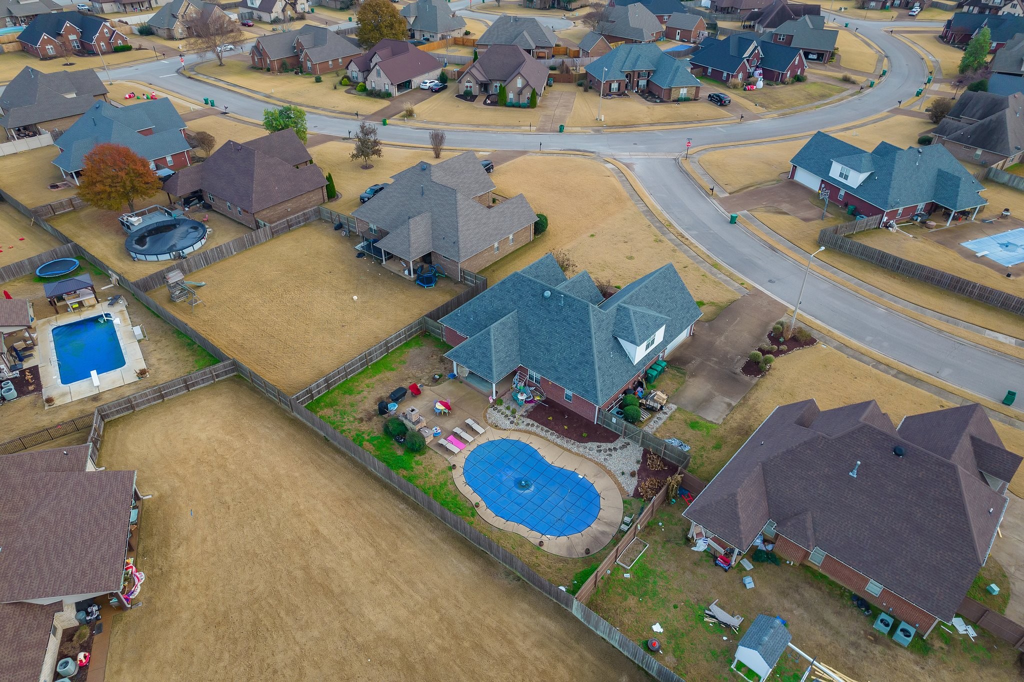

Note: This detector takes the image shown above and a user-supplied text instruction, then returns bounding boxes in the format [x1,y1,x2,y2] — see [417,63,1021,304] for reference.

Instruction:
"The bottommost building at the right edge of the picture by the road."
[679,390,1024,638]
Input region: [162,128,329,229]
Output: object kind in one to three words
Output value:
house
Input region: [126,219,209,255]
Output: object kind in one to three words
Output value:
swimming pool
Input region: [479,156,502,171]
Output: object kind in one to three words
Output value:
car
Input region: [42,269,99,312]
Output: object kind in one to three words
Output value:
gazebo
